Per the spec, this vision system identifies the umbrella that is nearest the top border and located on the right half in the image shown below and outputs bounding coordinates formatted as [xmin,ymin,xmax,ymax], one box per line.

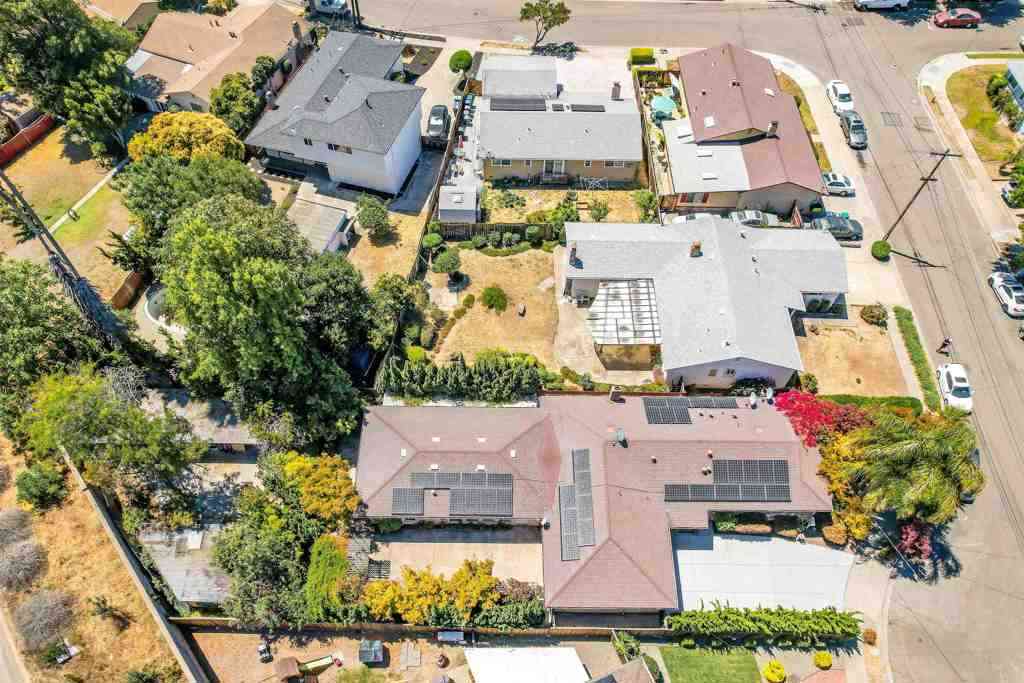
[649,98,675,122]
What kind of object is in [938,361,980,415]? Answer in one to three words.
car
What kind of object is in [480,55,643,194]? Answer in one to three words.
house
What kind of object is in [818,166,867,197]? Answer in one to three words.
car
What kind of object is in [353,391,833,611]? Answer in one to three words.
house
